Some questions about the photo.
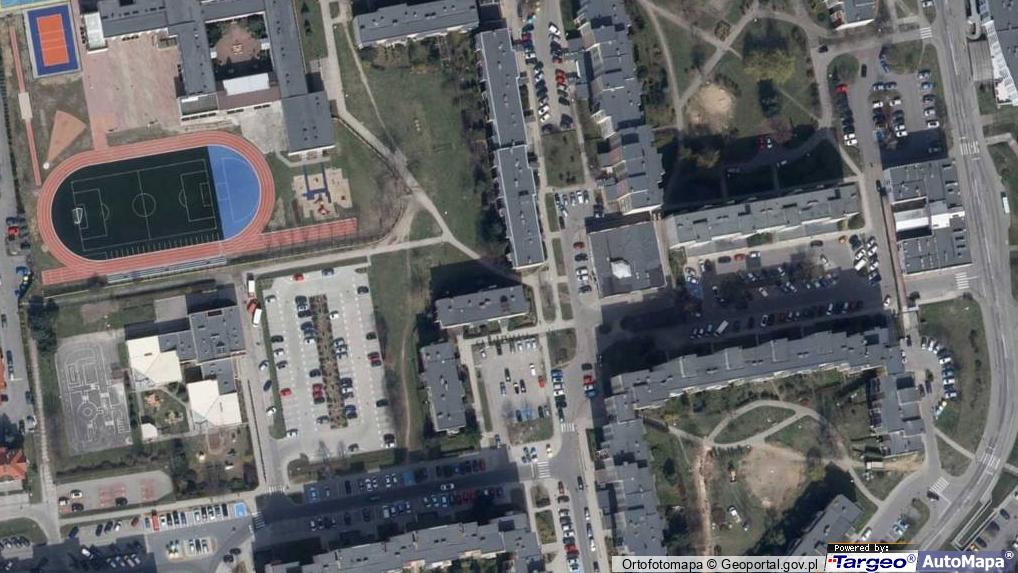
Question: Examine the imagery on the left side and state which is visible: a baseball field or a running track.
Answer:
running track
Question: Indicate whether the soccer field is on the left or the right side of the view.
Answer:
left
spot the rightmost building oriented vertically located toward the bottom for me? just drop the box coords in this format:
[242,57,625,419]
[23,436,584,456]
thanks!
[868,345,925,459]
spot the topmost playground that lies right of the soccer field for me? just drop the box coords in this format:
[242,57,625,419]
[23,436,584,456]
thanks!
[293,163,352,220]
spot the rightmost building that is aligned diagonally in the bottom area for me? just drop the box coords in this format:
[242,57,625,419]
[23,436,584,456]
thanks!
[774,495,862,573]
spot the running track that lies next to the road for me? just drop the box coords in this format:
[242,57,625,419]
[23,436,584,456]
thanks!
[39,132,358,285]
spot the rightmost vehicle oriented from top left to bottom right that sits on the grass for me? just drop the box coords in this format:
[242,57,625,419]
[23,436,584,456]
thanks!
[728,507,742,524]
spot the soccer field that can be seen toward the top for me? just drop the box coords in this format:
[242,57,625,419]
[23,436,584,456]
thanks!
[53,146,222,261]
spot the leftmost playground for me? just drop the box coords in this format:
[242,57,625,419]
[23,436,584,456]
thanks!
[56,337,132,455]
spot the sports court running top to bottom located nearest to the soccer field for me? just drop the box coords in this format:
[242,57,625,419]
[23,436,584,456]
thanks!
[206,146,260,241]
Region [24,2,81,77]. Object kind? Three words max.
sports court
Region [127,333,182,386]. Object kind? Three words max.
building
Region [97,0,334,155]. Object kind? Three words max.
building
